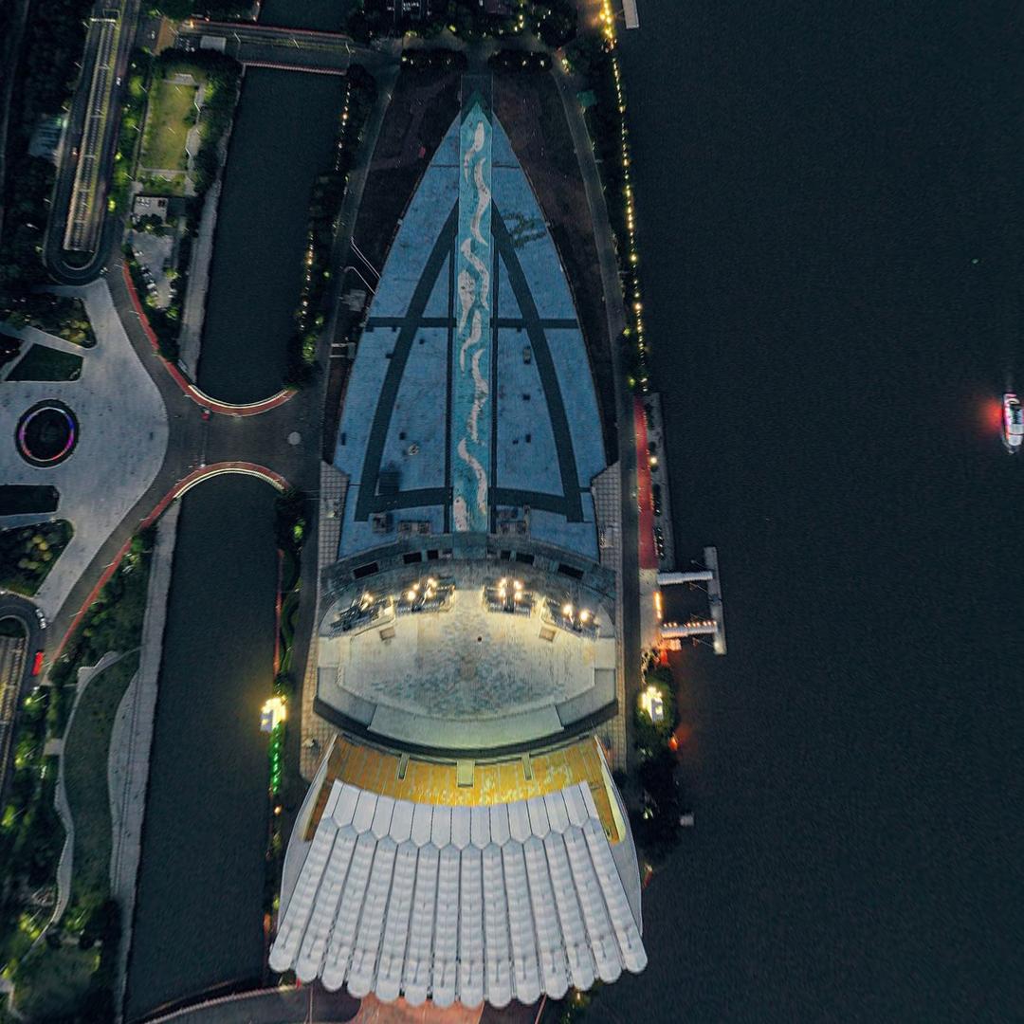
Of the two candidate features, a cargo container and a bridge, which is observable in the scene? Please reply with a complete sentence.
The image shows a bridge.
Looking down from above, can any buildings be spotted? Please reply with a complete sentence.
Yes, there is a building in the image.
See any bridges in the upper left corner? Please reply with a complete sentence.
Yes, looking in the upper left corner, one can make out a bridge.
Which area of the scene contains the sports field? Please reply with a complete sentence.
The sports field is located in the top left region of the scene.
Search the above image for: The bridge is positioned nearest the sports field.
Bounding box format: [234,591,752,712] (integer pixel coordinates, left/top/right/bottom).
[176,17,364,77]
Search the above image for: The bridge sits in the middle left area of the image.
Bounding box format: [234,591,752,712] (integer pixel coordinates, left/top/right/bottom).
[167,379,302,503]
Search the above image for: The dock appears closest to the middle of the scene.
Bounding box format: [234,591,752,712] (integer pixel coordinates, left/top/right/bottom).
[657,547,726,654]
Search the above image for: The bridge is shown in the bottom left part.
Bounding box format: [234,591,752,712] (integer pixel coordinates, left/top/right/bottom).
[129,976,299,1024]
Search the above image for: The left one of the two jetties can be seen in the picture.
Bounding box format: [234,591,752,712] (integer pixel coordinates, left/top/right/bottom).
[619,0,639,29]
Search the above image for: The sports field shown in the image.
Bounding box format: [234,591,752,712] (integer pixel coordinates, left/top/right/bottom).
[136,63,208,194]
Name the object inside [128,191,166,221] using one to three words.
building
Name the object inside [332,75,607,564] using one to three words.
building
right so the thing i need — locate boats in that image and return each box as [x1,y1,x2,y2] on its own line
[680,814,694,825]
[1002,393,1024,455]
